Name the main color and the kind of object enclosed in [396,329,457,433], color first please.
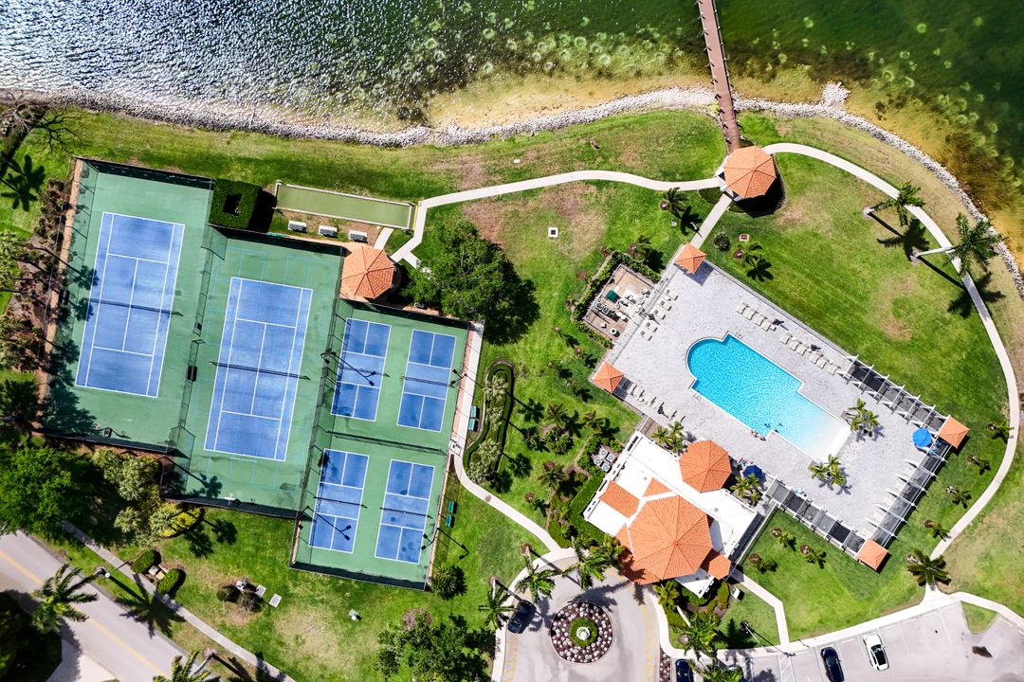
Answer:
blue sports court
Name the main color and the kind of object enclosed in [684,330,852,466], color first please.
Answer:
blue swimming pool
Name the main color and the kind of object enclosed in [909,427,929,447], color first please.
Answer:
blue umbrella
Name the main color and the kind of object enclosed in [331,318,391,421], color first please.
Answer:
blue sports court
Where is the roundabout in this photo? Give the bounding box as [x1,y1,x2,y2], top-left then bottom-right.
[551,601,613,663]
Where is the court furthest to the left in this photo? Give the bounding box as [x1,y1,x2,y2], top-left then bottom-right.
[44,163,216,450]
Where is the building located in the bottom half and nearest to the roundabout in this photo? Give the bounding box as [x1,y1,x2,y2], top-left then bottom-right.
[582,426,759,611]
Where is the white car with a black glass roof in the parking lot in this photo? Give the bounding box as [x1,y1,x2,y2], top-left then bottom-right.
[865,635,890,673]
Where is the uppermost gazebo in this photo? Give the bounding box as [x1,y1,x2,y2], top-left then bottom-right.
[716,145,777,204]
